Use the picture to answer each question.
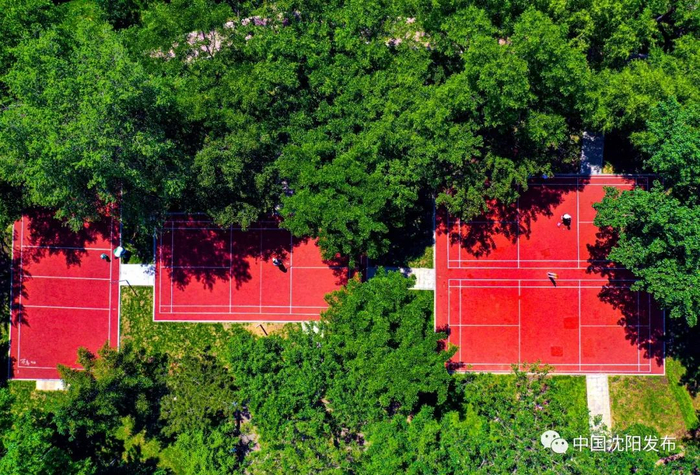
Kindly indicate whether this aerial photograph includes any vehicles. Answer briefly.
No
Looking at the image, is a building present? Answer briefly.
No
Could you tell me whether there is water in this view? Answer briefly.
No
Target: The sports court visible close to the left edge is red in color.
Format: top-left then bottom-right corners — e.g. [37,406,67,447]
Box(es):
[8,185,122,382]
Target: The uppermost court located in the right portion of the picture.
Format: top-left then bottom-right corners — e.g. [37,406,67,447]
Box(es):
[434,174,666,275]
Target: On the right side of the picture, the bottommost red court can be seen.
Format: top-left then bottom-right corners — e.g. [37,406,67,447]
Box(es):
[434,274,667,376]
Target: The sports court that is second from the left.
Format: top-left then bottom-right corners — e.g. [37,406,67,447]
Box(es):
[152,213,368,323]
